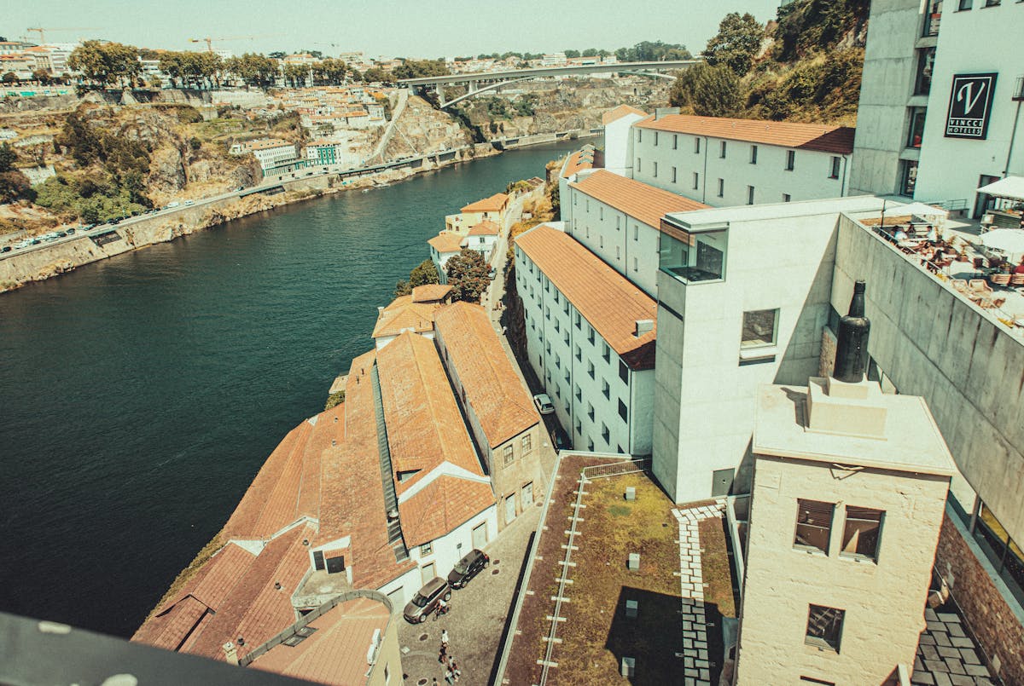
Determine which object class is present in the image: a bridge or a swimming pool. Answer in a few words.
bridge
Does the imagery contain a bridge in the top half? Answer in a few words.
Yes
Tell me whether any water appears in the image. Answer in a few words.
Yes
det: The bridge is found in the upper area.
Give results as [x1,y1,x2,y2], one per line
[383,60,707,111]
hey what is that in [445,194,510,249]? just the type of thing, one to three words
house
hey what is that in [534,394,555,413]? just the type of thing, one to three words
car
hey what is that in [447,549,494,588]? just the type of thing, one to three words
car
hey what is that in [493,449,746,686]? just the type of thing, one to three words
building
